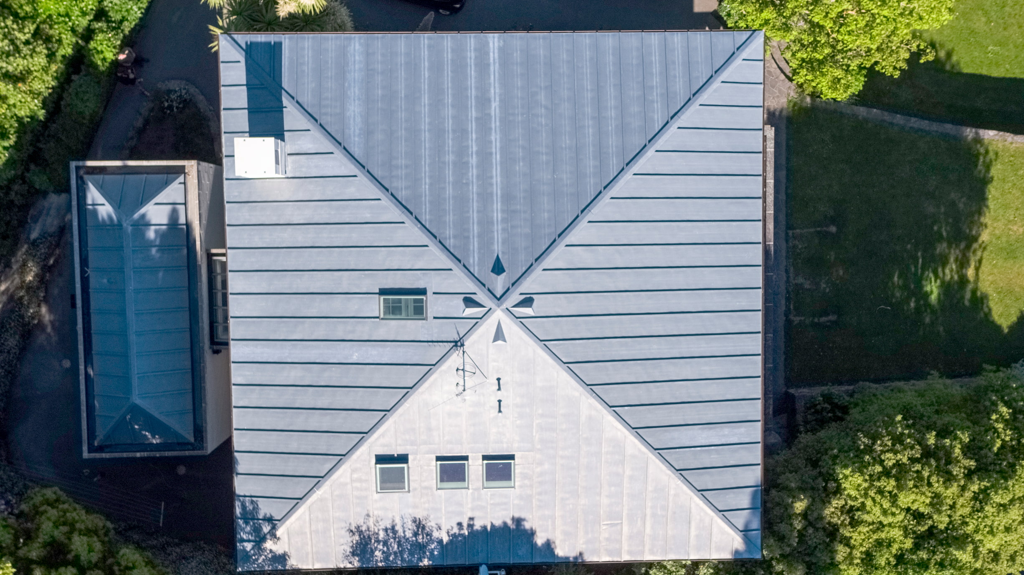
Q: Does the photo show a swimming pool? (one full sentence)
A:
No, I can see no swimming pool in this picture.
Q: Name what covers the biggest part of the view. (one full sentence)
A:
The scene is dominated by buildings.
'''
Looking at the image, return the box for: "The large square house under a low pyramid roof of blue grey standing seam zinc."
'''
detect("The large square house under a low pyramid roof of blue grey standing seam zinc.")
[216,28,767,574]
